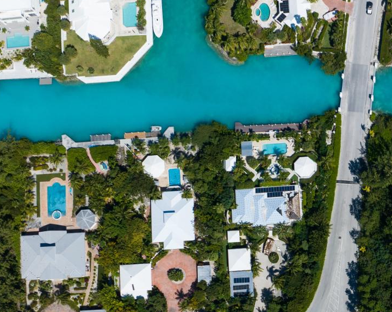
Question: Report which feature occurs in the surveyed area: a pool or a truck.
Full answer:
The image shows a pool.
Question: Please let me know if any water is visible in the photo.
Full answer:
Yes, there's water in this view.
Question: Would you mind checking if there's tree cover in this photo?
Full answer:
Yes, some tree cover is visible.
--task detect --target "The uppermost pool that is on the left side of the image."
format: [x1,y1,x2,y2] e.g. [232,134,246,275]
[122,1,137,27]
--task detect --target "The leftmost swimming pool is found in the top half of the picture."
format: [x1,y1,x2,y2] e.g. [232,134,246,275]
[6,32,30,49]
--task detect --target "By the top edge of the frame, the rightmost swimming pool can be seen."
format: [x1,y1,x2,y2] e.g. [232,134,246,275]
[255,2,271,21]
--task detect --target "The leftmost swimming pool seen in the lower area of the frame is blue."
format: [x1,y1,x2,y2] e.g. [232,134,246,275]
[47,181,67,220]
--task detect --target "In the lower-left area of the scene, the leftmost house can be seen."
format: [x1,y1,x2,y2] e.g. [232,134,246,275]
[20,230,89,280]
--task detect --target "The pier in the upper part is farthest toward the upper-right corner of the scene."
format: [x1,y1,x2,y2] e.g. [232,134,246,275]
[265,44,297,56]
